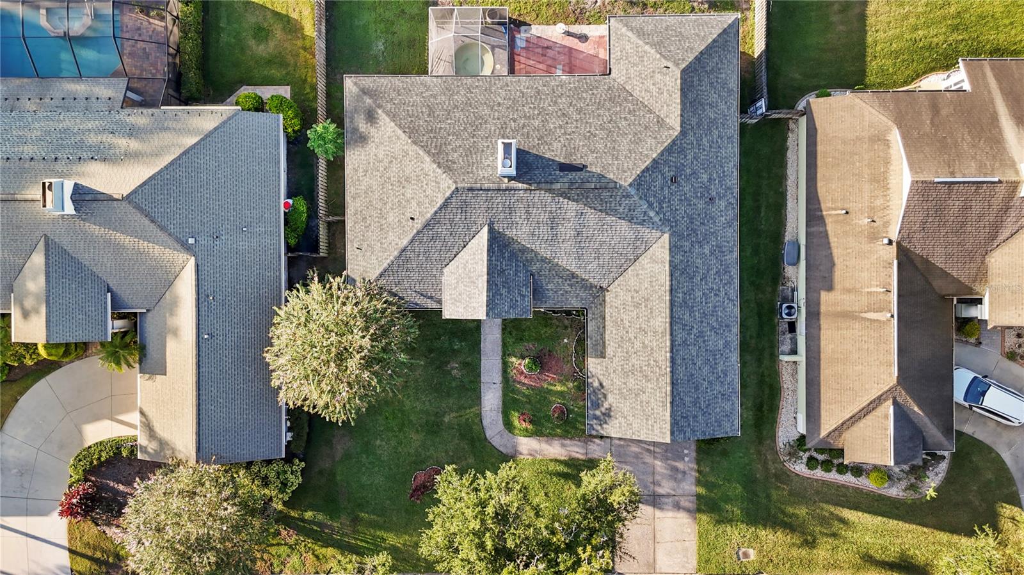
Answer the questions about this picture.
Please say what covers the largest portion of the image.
buildings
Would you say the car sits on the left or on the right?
right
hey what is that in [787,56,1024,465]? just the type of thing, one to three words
house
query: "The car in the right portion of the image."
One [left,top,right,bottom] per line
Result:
[956,374,1024,429]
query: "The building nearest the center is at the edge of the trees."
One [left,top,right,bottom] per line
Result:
[342,13,742,445]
